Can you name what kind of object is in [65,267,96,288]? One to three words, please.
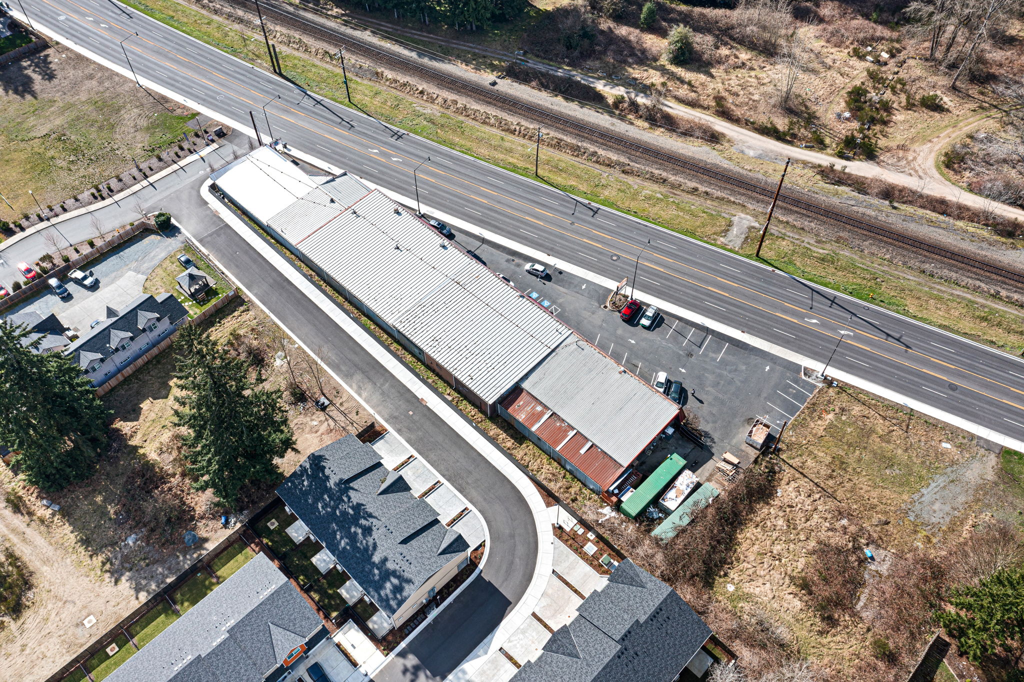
truck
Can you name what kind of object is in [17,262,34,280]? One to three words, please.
car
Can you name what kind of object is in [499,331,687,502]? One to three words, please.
shed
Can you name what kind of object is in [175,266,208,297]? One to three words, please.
gazebo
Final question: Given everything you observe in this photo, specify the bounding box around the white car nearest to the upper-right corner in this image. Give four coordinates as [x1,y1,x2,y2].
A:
[639,304,659,328]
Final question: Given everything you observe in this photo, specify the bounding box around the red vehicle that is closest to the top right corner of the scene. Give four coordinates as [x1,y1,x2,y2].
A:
[620,299,640,322]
